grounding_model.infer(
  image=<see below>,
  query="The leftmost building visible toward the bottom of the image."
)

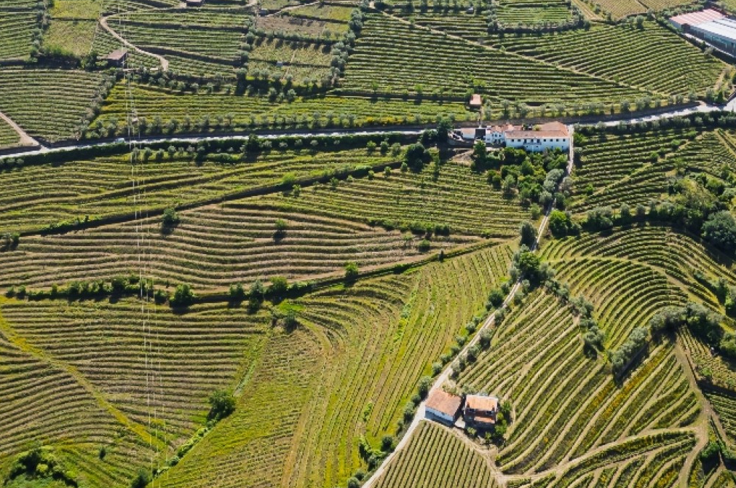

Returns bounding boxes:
[423,388,462,425]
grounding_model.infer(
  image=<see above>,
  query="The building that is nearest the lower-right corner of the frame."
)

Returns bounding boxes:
[463,392,498,432]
